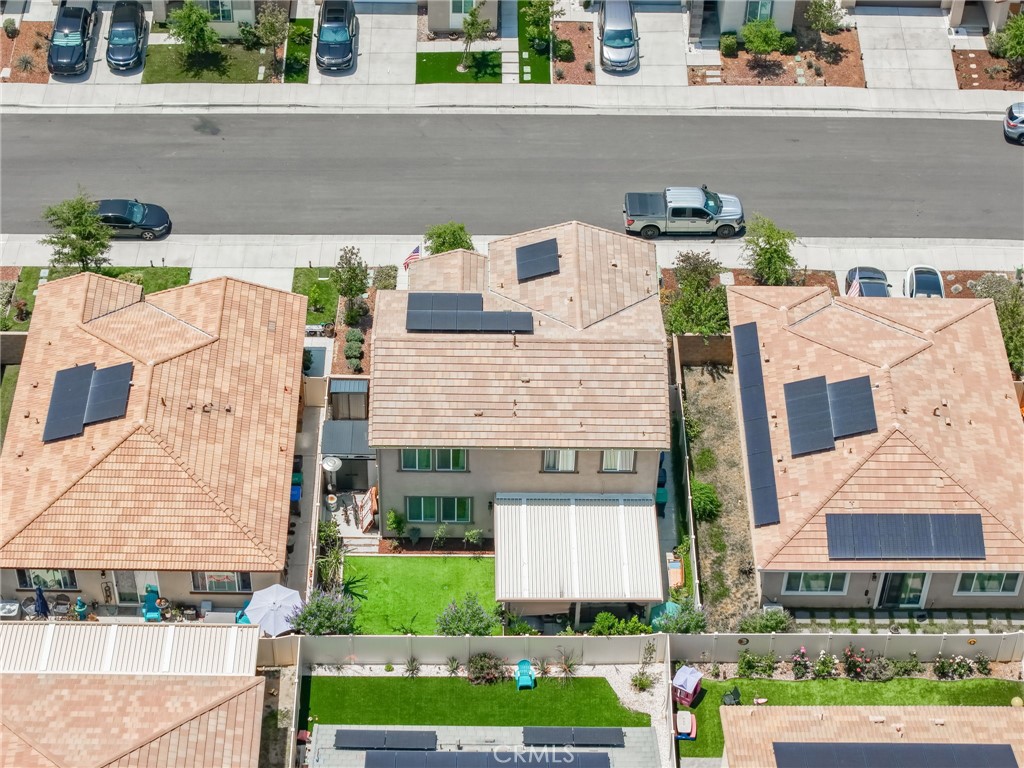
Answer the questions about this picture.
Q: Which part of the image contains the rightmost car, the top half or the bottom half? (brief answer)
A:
top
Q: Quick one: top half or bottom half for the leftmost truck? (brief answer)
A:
top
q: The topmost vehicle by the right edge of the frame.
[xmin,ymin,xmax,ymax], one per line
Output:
[999,100,1024,146]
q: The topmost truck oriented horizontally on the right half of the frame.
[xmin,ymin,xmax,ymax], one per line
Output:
[623,186,745,239]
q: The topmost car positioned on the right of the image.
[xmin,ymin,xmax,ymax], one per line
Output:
[595,1,641,74]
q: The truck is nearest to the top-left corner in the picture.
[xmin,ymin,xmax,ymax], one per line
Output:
[45,0,101,76]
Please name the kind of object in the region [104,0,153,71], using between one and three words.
car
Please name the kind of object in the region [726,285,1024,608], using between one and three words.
house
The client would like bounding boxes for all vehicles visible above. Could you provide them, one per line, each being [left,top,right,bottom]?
[848,266,899,297]
[904,265,957,297]
[72,197,171,241]
[104,0,153,71]
[45,0,101,76]
[623,186,745,239]
[595,1,641,74]
[314,1,360,73]
[999,100,1024,146]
